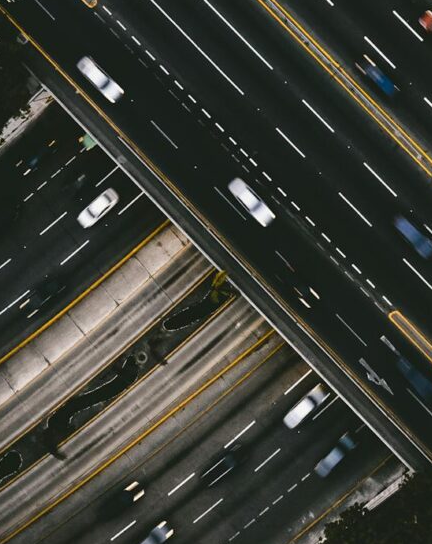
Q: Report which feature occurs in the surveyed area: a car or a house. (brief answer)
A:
car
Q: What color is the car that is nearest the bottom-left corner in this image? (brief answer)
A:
black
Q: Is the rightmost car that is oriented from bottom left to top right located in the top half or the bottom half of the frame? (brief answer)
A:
bottom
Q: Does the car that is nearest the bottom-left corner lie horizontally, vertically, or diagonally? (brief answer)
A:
diagonally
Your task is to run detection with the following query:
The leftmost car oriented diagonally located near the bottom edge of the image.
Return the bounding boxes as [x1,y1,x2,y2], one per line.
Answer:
[95,480,143,523]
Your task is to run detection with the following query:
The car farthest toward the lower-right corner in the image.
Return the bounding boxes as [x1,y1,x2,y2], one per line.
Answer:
[312,434,359,477]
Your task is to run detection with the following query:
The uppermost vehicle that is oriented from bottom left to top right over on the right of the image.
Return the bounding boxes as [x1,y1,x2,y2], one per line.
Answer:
[284,384,329,425]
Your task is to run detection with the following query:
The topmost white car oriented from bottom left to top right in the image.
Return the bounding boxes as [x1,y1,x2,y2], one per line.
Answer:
[75,186,122,227]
